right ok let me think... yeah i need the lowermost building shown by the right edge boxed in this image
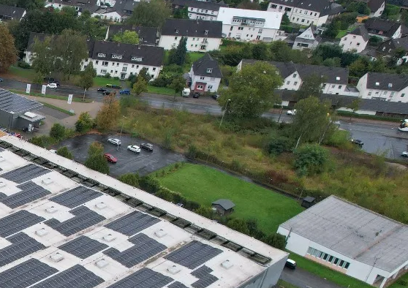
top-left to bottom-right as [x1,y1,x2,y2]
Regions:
[273,195,408,288]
